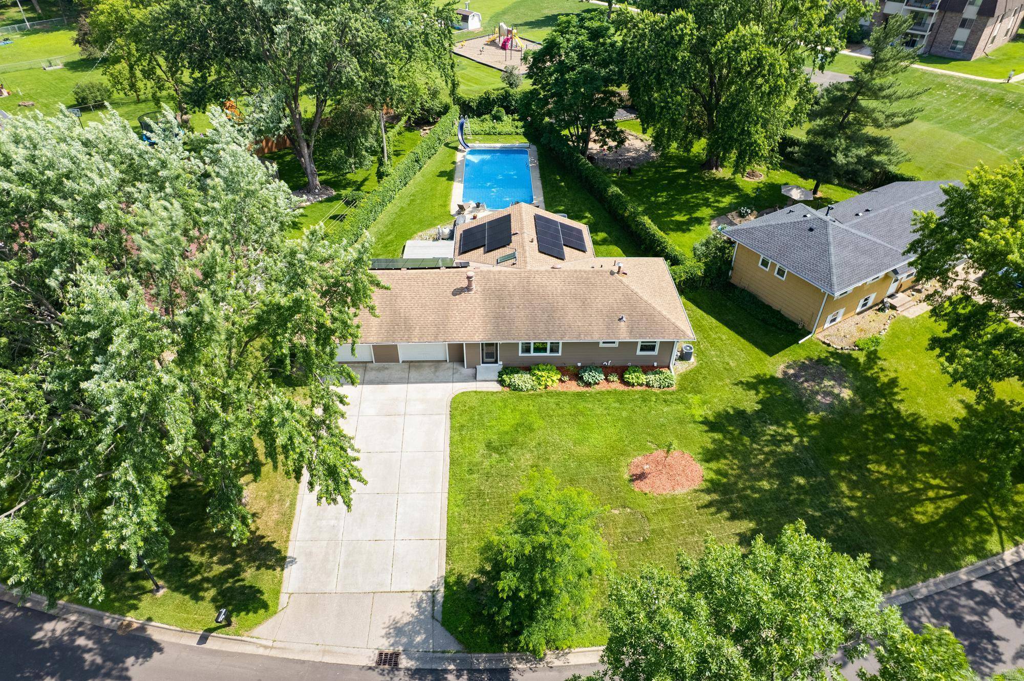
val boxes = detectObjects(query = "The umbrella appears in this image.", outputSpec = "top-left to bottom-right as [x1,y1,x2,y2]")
[779,184,812,206]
